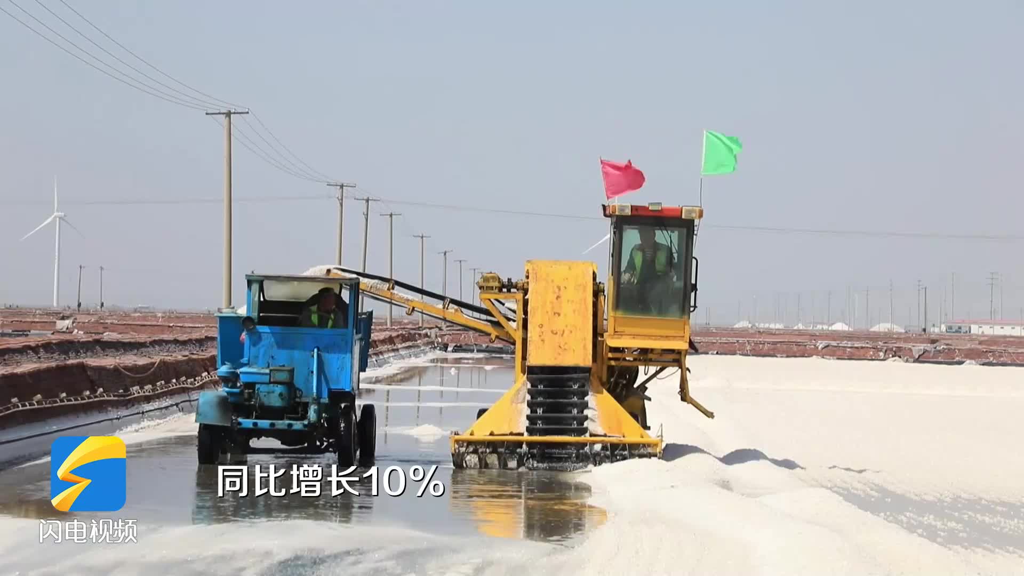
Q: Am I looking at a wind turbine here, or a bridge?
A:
wind turbine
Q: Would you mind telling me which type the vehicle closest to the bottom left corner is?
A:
truck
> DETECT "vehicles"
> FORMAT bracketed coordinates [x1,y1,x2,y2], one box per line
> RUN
[192,269,383,468]
[326,203,716,469]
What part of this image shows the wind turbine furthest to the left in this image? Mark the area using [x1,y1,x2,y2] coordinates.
[29,171,84,310]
